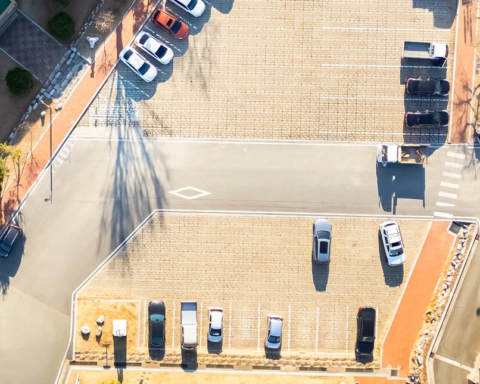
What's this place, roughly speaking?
parking lot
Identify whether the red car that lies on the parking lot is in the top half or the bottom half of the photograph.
top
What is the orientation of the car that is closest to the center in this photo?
vertically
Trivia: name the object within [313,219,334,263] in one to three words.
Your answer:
car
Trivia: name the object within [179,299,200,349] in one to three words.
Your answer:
truck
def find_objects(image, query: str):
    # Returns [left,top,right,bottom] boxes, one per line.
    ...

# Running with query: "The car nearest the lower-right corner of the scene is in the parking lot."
[356,306,377,355]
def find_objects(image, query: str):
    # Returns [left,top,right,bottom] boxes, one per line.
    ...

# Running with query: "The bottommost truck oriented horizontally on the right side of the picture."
[376,144,431,166]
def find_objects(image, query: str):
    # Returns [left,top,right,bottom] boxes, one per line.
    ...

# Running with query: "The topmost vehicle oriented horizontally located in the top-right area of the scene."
[401,40,451,63]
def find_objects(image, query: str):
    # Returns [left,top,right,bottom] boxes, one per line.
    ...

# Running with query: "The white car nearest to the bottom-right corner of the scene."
[380,220,405,267]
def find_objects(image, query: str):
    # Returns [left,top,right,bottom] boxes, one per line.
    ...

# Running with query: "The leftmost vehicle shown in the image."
[0,222,26,259]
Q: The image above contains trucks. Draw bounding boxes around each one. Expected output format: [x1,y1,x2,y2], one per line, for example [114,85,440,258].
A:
[376,144,431,166]
[401,40,451,63]
[179,299,200,349]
